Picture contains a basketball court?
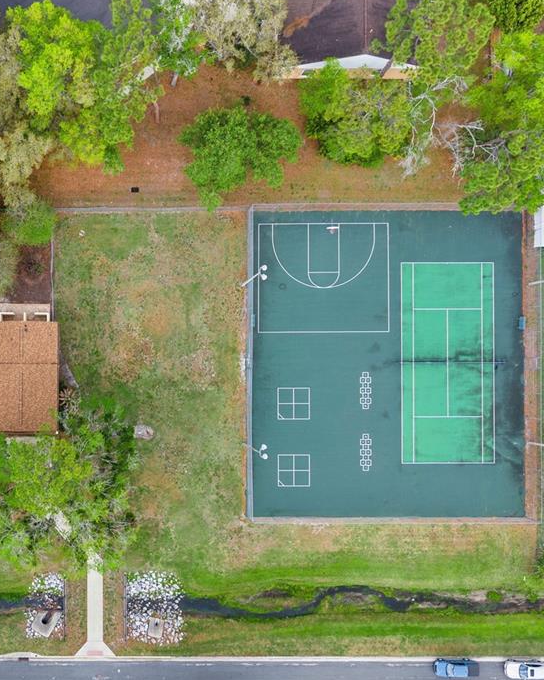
Yes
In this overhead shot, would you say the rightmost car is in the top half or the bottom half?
bottom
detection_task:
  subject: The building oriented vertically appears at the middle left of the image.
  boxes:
[0,312,60,437]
